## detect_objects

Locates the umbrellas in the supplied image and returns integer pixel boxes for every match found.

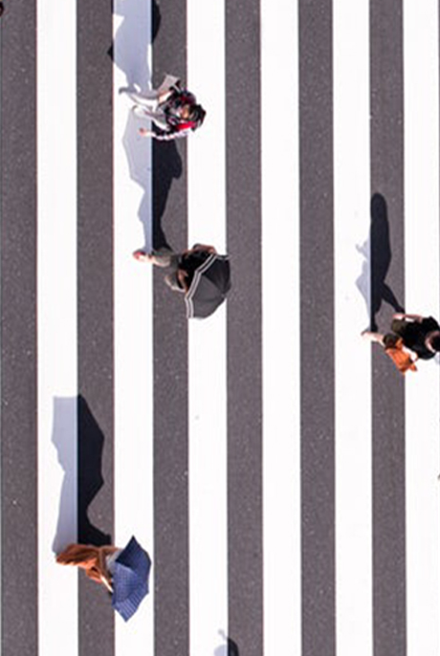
[81,536,156,621]
[190,249,236,324]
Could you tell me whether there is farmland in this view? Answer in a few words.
No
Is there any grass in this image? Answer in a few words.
No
